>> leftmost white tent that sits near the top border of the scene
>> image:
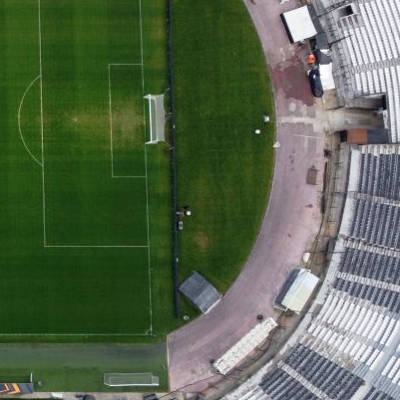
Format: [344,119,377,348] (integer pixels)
[273,6,316,45]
